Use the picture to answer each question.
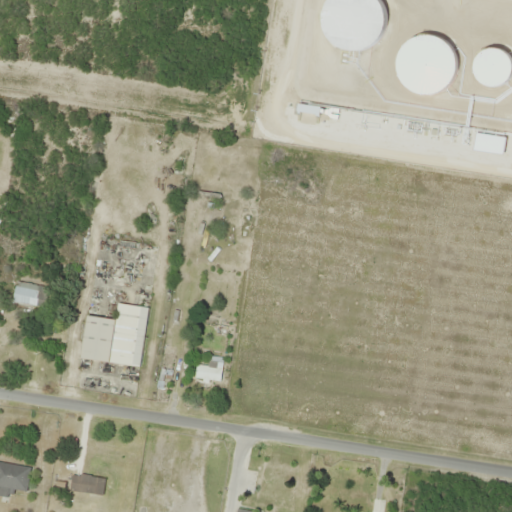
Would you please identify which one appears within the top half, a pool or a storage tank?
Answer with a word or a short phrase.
storage tank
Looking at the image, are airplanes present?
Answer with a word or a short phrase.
No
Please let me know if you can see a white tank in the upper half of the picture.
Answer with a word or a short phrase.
Yes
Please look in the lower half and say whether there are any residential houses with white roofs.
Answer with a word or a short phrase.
Yes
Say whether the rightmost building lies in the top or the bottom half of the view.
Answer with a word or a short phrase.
top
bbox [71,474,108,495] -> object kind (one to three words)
house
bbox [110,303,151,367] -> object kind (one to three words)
building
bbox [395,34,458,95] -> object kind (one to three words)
storage tank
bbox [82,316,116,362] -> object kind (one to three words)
building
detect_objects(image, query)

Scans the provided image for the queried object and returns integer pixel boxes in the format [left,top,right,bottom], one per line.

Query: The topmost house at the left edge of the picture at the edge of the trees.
[14,282,47,308]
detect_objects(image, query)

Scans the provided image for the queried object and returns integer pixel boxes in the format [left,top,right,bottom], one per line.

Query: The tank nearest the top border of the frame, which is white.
[322,0,389,53]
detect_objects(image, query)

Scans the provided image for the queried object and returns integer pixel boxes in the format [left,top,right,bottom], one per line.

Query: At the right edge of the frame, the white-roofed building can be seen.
[474,134,506,154]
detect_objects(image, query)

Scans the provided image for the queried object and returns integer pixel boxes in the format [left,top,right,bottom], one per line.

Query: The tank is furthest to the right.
[471,48,512,88]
